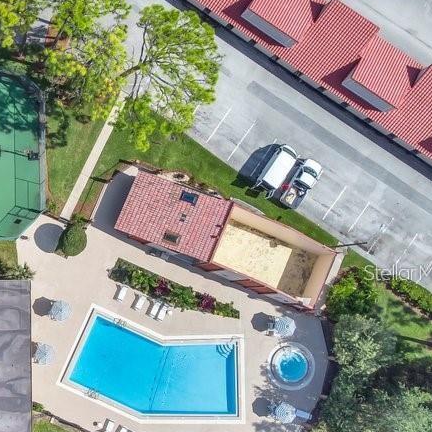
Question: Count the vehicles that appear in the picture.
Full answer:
My tally gives 2 vehicles in this view.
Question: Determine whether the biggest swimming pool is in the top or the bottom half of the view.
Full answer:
Seen from above, the biggest swimming pool lies in the bottom half of the view.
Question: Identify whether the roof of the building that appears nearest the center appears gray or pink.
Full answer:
The roof of the building that appears nearest the center is pink.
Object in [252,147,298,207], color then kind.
white van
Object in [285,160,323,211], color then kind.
white truck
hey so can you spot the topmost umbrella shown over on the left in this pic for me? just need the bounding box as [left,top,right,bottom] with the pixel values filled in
[48,298,72,322]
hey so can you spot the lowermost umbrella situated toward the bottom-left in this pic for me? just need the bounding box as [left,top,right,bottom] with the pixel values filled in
[33,341,56,365]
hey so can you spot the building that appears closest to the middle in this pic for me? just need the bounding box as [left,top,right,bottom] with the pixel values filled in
[114,170,231,262]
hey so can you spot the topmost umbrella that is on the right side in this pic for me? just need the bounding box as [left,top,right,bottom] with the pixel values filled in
[272,313,296,337]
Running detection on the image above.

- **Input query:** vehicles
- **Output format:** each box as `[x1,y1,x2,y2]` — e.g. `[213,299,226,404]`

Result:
[252,147,298,207]
[285,160,323,211]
